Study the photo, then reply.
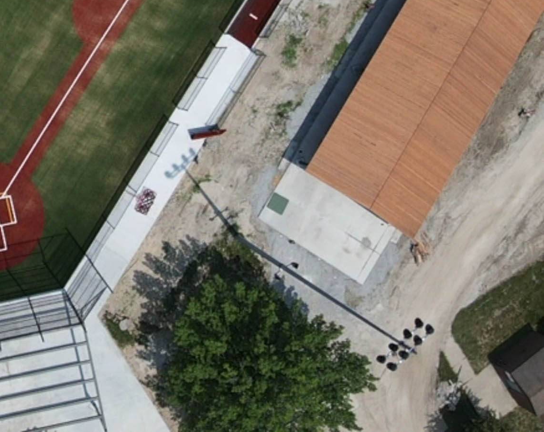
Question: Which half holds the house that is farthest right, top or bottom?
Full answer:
The house that is farthest right is in the bottom half of the image.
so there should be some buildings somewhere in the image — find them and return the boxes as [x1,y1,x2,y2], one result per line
[495,325,544,425]
[299,0,544,238]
